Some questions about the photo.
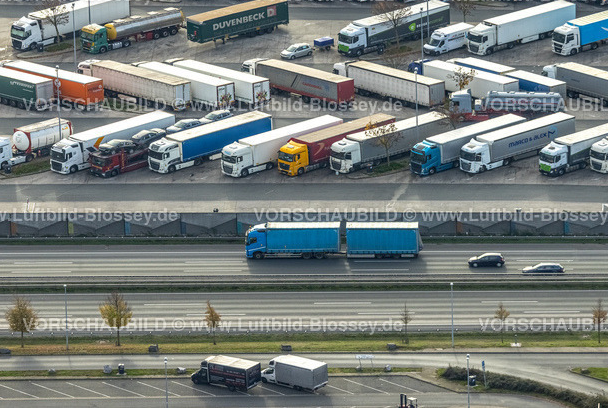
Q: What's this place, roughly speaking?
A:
parking lot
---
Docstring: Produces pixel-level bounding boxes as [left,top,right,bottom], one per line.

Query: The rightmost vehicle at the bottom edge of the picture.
[401,391,422,408]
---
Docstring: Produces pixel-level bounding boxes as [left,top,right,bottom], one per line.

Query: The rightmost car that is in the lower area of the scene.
[523,259,566,273]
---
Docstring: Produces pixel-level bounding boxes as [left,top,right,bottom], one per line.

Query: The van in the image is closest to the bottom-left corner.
[191,356,254,391]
